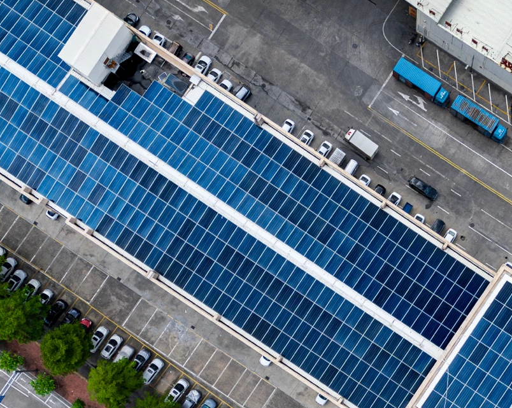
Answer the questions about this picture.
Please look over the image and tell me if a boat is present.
No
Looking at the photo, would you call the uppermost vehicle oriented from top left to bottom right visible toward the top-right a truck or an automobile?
truck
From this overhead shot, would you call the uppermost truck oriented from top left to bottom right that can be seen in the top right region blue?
Yes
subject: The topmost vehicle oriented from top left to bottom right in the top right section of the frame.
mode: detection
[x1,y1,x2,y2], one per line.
[391,54,454,113]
